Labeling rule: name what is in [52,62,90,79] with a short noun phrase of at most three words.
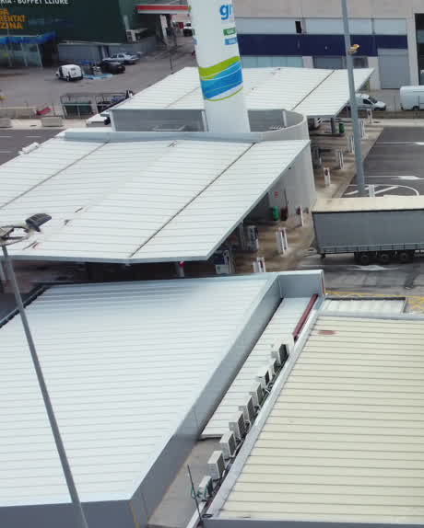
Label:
vehicle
